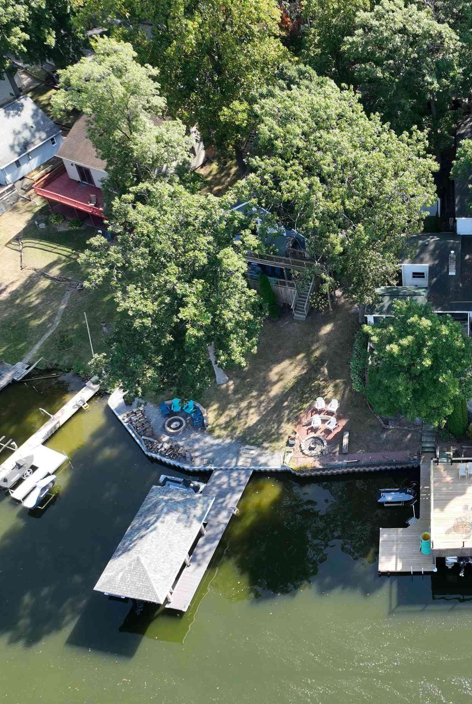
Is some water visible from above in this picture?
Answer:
Yes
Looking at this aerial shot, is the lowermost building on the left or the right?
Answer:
left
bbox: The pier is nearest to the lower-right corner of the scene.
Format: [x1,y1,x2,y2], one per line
[378,457,439,578]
